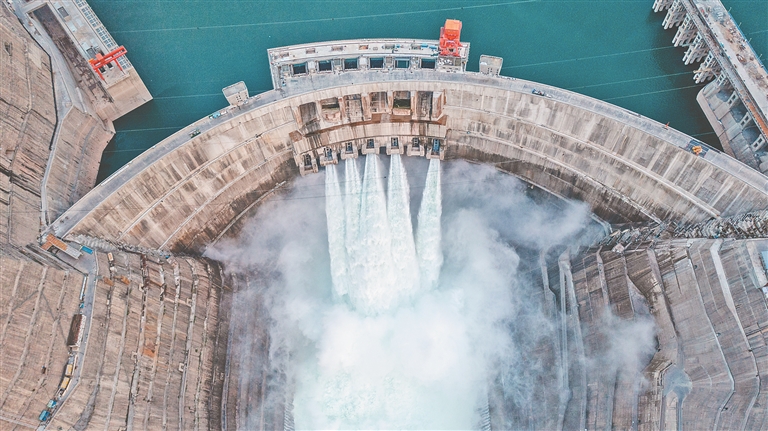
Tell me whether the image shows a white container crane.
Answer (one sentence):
No, no white container crane can be seen from above.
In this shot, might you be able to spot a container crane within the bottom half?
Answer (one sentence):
No, the scene shows no container crane within the bottom half.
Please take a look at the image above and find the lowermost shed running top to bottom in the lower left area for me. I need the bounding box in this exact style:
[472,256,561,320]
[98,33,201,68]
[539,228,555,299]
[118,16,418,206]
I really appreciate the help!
[68,313,88,348]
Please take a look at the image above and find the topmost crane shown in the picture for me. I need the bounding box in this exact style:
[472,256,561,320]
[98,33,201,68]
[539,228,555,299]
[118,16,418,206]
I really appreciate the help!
[439,24,460,58]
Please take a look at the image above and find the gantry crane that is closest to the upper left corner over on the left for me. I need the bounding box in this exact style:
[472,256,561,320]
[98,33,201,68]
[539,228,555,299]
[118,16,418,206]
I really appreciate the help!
[86,45,130,85]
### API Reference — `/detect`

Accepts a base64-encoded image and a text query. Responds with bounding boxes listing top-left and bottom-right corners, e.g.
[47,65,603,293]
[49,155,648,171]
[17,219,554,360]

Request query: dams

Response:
[42,35,768,265]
